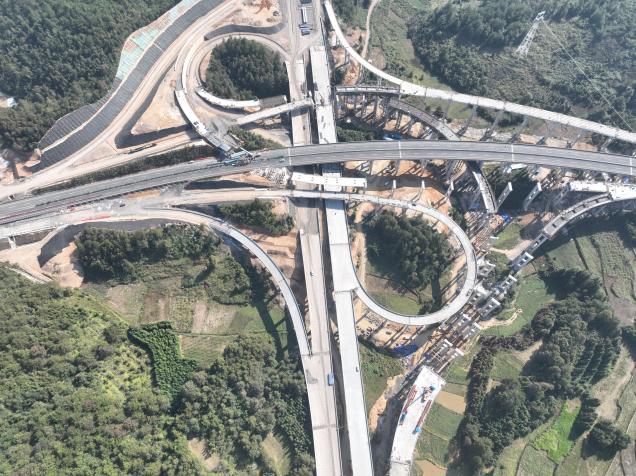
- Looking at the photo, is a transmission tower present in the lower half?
No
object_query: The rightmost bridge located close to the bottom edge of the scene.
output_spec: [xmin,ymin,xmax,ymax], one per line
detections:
[388,366,445,476]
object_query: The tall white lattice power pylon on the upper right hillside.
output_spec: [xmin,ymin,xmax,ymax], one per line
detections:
[516,10,546,58]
